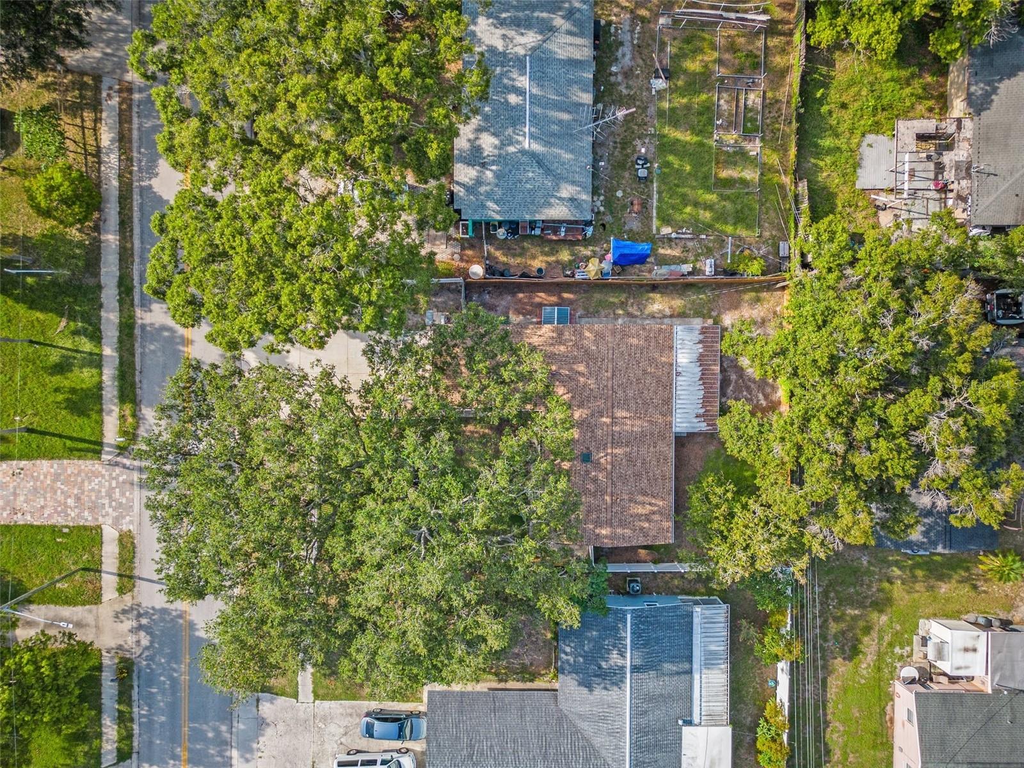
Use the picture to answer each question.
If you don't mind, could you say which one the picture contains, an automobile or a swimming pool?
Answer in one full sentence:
There is an automobile in the scene.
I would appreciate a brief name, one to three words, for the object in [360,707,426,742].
car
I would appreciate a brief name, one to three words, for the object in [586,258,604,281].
umbrella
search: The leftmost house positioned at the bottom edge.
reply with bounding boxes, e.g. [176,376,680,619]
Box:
[424,594,734,768]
